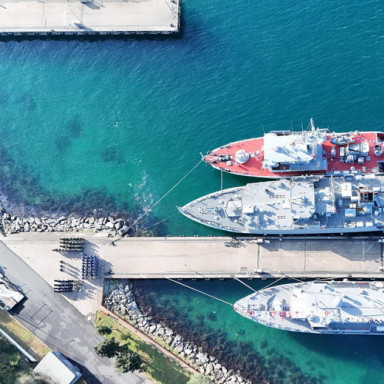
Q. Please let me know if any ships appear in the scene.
Yes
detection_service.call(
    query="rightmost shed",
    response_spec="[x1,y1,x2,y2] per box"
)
[34,351,82,384]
